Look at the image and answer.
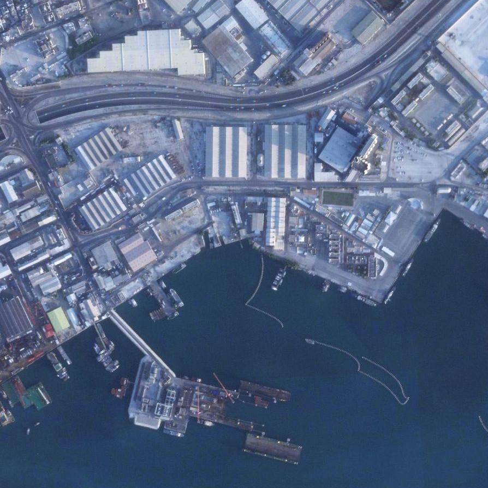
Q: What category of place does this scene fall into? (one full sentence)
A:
This image shows a port.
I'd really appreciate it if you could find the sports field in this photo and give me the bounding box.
[321,189,355,209]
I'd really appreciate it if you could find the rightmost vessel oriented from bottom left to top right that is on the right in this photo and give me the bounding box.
[422,218,440,243]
